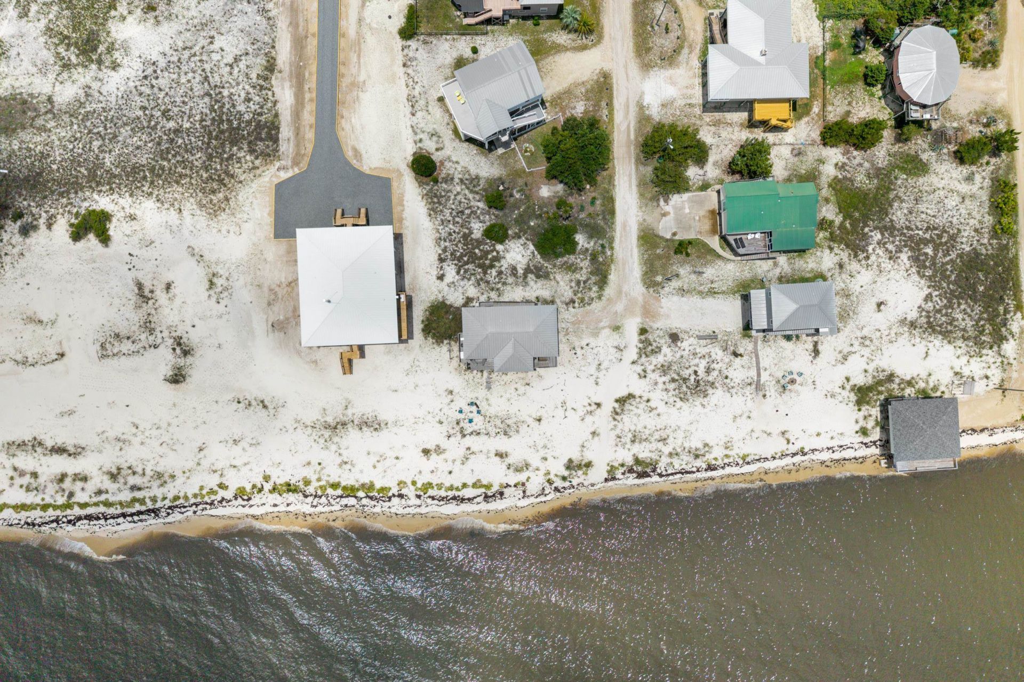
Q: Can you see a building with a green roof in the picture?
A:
Yes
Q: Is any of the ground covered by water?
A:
Yes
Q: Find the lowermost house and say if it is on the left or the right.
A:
right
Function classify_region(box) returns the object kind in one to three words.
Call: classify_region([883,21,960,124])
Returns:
house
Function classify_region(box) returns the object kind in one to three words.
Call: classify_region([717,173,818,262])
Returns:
house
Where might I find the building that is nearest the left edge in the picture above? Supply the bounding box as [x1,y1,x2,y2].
[296,206,411,375]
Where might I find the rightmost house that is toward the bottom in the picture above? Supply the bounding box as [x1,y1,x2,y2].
[880,397,962,473]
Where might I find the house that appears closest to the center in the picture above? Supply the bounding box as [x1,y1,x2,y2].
[459,301,558,372]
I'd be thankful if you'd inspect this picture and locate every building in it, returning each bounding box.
[440,41,546,145]
[717,173,818,262]
[296,206,411,375]
[883,21,960,124]
[456,0,564,27]
[742,281,837,336]
[459,301,558,372]
[880,397,962,473]
[699,0,809,135]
